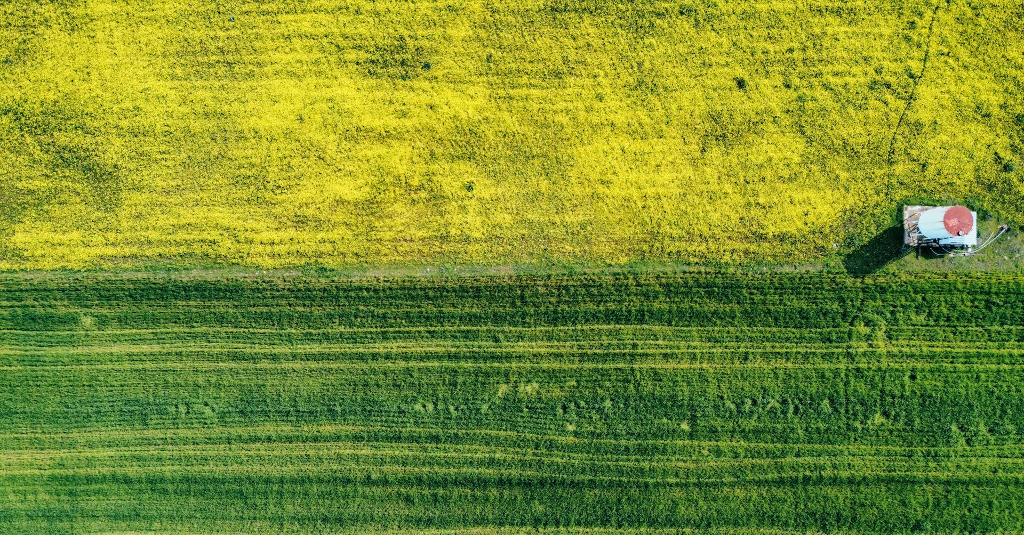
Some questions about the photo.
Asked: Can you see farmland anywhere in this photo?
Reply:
Yes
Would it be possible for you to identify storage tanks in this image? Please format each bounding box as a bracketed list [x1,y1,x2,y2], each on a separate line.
[905,205,973,243]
